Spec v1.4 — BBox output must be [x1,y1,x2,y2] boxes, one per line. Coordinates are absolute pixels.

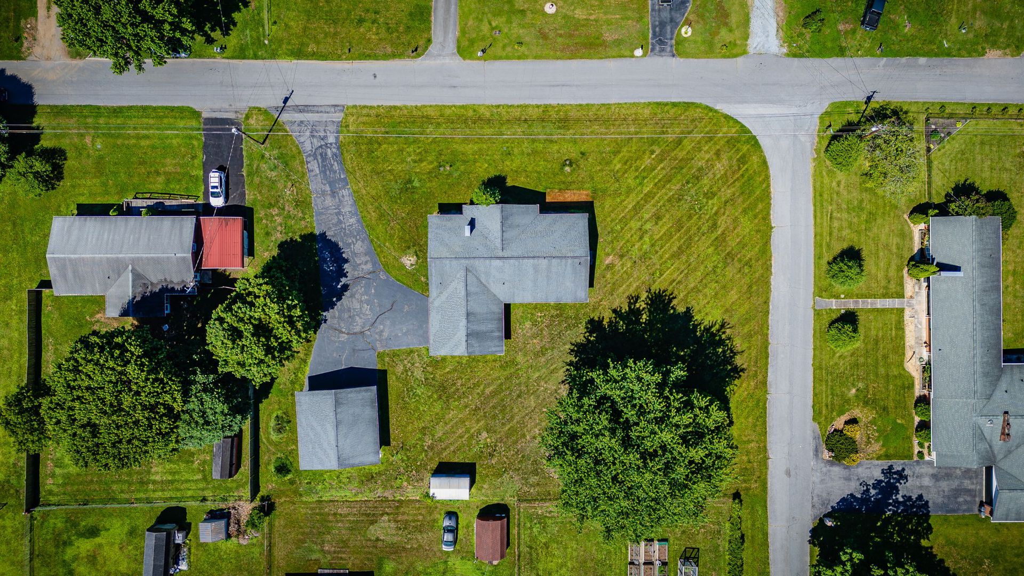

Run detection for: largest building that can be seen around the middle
[426,203,590,356]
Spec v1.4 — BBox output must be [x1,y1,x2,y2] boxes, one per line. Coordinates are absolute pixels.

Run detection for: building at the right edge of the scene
[921,215,1024,522]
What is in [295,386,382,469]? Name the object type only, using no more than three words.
building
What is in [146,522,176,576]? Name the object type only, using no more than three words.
shed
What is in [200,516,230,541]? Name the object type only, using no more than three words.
shed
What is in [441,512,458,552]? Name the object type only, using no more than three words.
car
